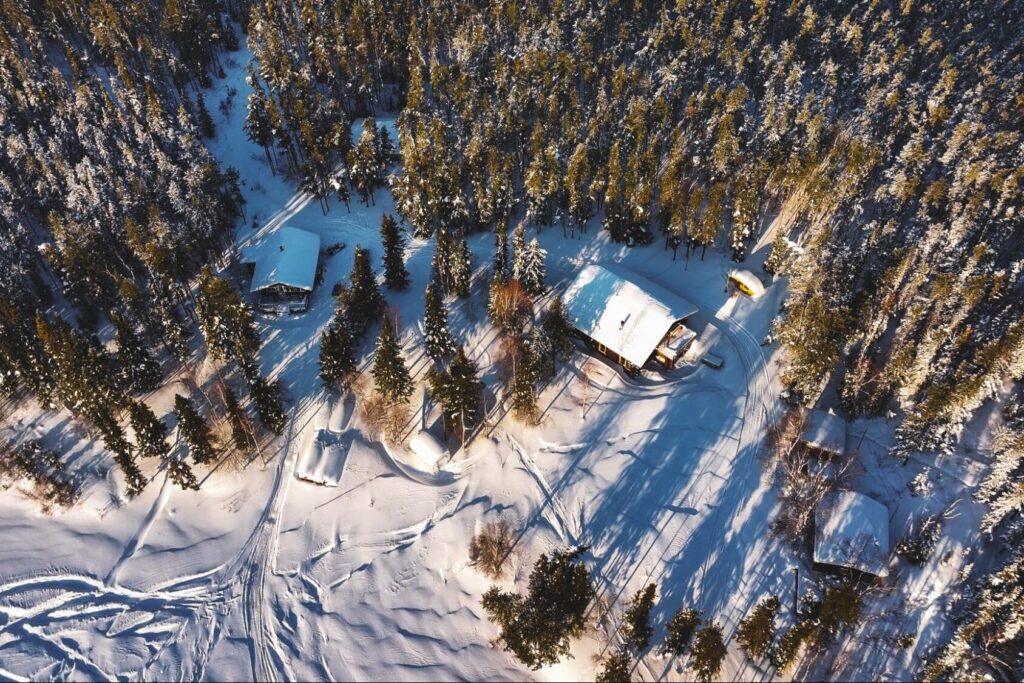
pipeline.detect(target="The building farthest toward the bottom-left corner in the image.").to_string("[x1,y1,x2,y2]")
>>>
[288,428,352,488]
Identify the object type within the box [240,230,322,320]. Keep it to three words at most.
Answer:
building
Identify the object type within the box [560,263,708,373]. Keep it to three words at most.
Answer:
building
